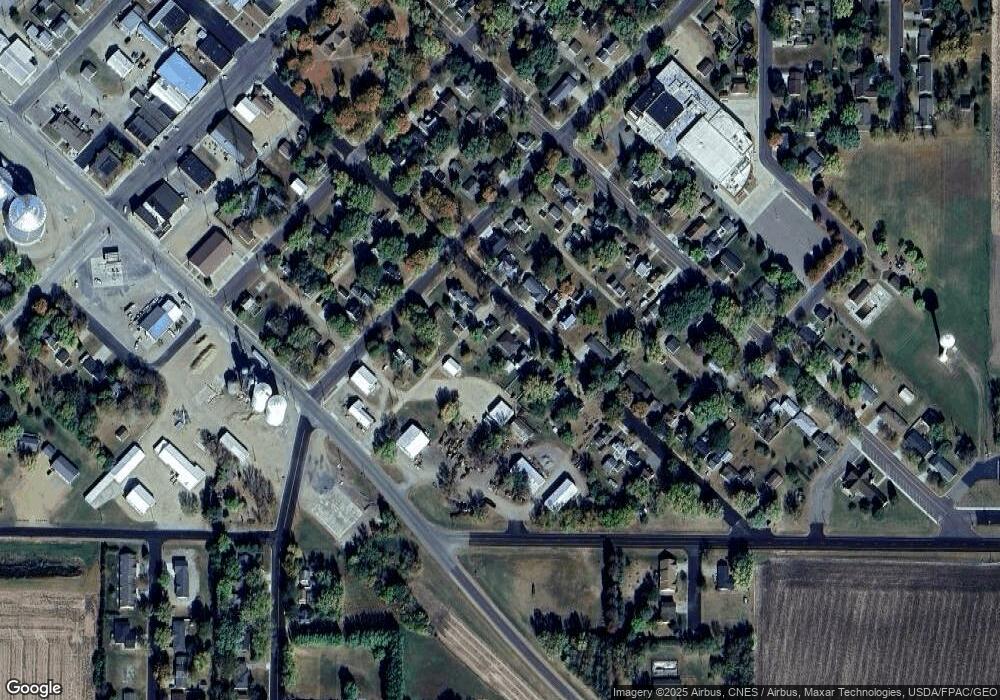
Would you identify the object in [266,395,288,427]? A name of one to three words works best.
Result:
silo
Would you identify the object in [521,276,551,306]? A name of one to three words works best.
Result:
house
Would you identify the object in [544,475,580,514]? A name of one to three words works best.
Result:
building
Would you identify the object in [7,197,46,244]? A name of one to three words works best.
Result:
silo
